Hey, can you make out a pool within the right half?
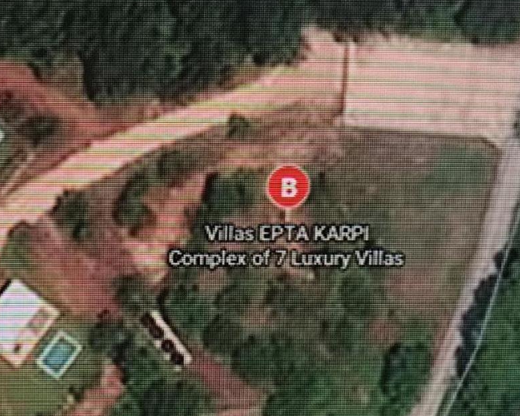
No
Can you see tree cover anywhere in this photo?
Yes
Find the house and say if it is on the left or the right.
left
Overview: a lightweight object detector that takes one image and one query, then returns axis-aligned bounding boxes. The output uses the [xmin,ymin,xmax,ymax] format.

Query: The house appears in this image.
[0,275,59,364]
